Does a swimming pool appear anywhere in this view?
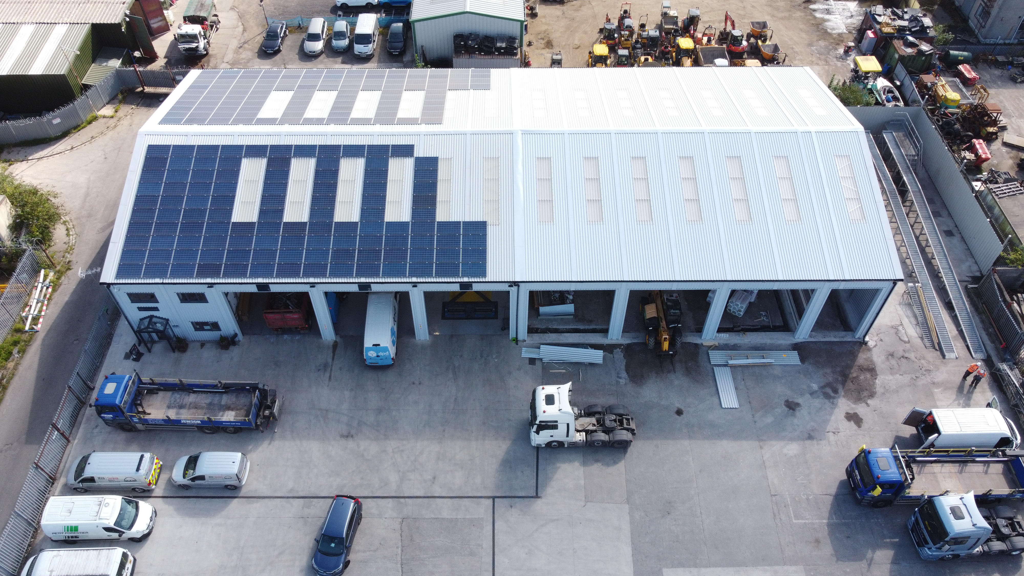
No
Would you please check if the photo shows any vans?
Yes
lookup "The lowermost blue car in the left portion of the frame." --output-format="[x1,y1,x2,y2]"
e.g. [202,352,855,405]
[309,494,363,576]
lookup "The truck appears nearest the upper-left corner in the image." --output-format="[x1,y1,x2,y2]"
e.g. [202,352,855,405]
[171,0,224,54]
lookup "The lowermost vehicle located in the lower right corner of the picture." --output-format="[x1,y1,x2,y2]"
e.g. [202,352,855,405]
[907,490,1024,559]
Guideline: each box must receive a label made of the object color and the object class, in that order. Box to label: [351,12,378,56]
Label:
white vehicle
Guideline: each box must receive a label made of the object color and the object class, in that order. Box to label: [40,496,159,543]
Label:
white van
